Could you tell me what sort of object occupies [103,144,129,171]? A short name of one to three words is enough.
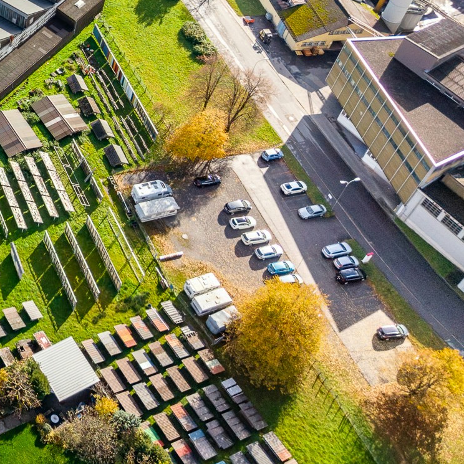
shed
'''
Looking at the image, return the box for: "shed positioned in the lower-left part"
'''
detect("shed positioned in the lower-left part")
[27,337,98,411]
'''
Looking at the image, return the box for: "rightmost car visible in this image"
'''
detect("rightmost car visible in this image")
[372,323,410,344]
